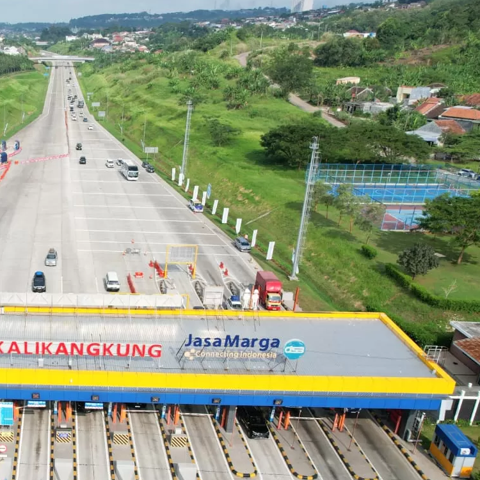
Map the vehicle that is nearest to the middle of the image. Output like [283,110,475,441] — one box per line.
[228,234,253,250]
